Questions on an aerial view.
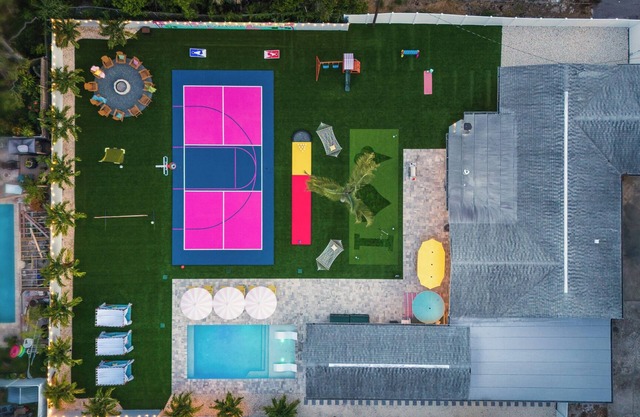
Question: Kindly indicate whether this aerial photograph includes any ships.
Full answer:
No, there appears to be no ship in this shot.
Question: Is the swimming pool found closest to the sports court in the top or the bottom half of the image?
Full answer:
It is in the bottom half that the swimming pool found closest to the sports court appears.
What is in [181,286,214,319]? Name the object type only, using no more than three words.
umbrella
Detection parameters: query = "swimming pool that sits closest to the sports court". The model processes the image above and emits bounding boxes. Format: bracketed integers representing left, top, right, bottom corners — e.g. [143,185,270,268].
[185,323,298,382]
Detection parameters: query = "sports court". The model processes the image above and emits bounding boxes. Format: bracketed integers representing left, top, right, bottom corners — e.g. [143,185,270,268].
[172,70,274,265]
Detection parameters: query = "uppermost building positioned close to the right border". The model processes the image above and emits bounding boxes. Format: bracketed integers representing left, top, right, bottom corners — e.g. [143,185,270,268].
[445,64,640,318]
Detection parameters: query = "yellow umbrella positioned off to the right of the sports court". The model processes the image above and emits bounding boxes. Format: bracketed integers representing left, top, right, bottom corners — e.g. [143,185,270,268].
[417,238,445,289]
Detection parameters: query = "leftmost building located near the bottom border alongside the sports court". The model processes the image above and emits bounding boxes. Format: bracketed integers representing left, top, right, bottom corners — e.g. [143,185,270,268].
[306,321,472,403]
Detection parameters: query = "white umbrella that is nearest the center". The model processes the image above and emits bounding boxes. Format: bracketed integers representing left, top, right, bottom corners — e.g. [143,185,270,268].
[245,286,277,319]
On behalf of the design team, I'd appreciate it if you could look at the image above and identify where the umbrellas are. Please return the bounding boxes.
[213,286,245,319]
[245,286,277,319]
[411,290,444,323]
[417,238,445,289]
[181,286,214,319]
